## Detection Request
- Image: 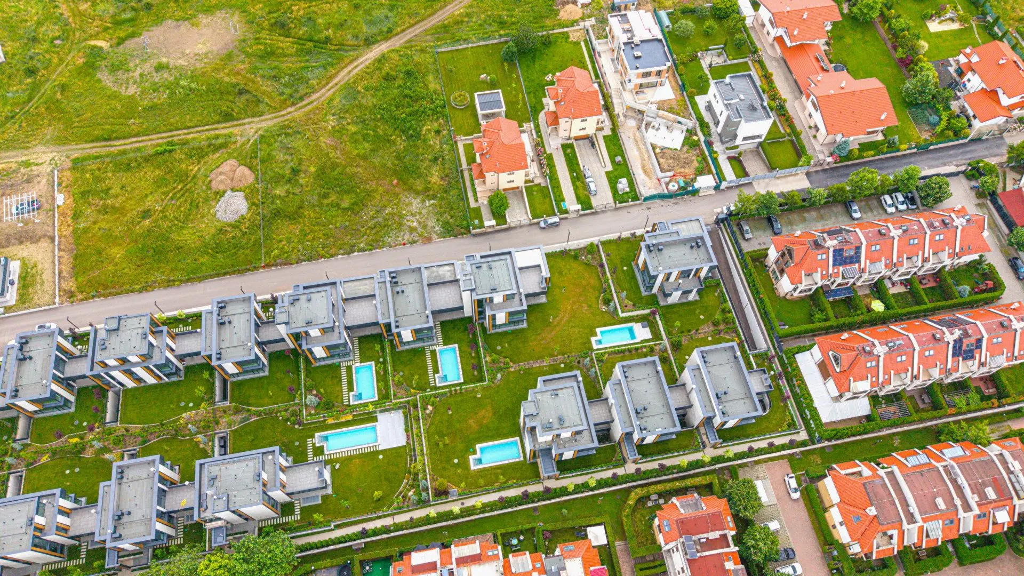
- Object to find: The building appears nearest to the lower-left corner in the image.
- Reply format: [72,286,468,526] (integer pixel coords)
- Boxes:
[0,489,98,571]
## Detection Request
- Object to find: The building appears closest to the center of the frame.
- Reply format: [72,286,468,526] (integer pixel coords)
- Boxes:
[463,245,550,336]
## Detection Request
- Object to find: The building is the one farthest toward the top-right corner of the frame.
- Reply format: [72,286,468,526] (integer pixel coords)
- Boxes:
[949,40,1024,130]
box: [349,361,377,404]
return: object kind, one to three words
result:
swimming pool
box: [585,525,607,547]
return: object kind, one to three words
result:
gazebo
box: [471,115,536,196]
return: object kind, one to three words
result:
house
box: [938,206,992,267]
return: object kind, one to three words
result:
house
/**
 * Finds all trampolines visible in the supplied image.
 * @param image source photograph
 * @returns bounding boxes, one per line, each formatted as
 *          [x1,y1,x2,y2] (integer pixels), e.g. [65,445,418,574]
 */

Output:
[333,562,354,576]
[832,63,846,73]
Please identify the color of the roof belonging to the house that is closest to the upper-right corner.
orange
